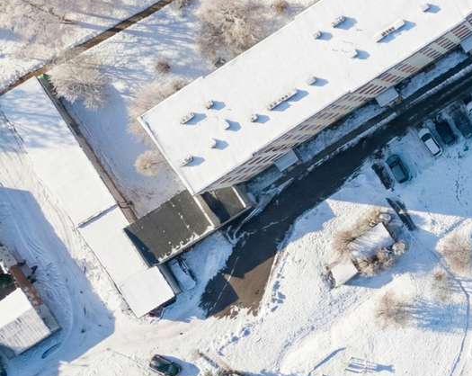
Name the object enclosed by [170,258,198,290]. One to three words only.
van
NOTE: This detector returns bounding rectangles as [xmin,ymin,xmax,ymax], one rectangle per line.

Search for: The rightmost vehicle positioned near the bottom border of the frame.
[149,356,183,375]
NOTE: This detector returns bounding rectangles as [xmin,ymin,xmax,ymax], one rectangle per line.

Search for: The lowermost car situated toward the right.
[388,155,409,182]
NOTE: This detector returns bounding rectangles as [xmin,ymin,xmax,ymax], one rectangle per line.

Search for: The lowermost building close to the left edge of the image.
[0,288,61,365]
